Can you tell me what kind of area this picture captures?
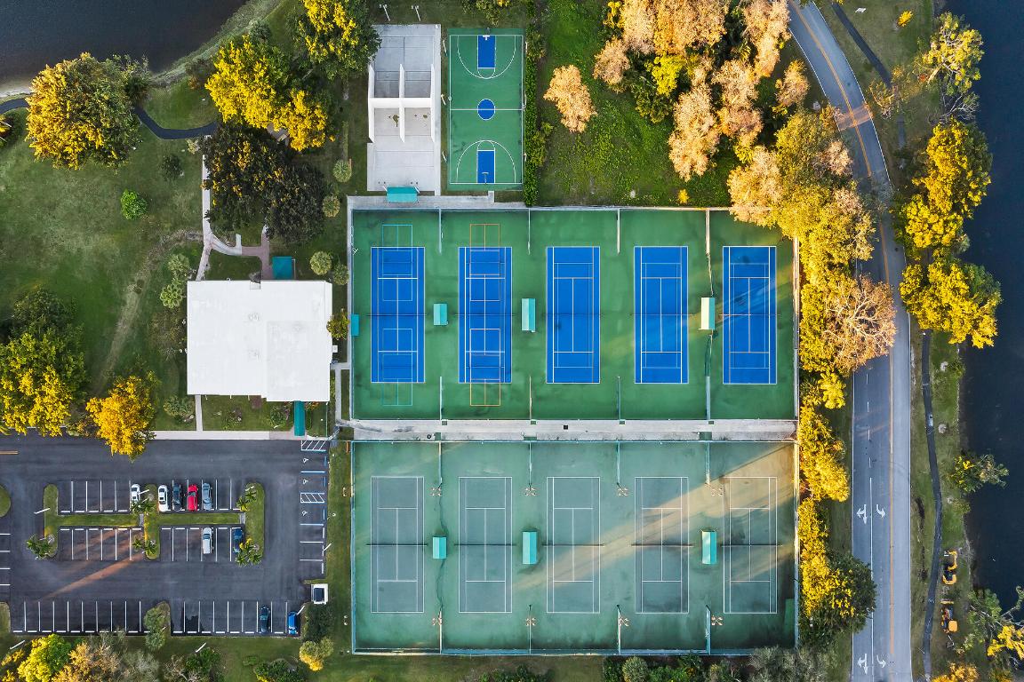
sports ground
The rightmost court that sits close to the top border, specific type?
basketball court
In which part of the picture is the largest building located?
left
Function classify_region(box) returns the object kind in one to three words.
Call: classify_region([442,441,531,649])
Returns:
tennis court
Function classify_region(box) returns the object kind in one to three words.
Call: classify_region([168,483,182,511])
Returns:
car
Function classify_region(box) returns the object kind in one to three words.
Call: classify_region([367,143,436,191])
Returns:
sports court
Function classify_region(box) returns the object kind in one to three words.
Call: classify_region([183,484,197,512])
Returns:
car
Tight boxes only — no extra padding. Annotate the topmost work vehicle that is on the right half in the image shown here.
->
[943,551,959,587]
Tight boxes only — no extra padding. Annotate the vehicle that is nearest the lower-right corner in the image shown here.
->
[941,602,960,647]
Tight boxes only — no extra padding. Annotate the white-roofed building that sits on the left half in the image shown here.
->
[187,281,337,402]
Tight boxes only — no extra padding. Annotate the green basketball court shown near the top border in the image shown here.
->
[448,28,524,191]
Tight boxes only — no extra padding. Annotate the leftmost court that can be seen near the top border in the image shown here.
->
[372,24,441,143]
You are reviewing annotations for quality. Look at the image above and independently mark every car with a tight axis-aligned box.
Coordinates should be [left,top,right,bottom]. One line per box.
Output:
[285,611,298,639]
[126,483,140,510]
[198,483,211,511]
[229,530,242,554]
[154,484,168,512]
[198,528,212,557]
[256,607,269,635]
[183,484,197,512]
[168,483,182,511]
